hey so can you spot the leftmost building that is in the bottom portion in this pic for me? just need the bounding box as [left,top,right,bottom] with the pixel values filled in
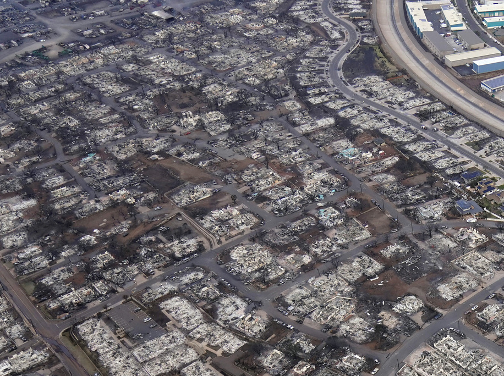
[76,317,117,350]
